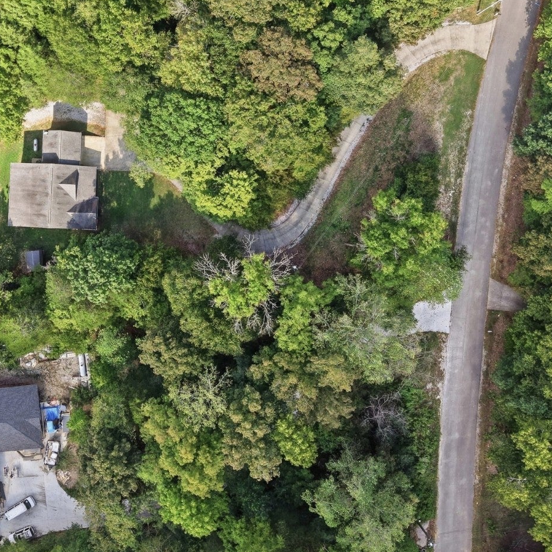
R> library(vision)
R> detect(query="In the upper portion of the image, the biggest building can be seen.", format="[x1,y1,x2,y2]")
[8,162,99,229]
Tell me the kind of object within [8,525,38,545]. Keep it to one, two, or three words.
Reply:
car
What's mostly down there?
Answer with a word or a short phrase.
trees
